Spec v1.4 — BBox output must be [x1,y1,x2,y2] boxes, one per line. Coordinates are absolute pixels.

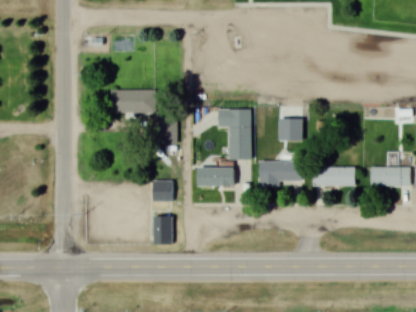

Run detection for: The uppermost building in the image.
[110,90,156,115]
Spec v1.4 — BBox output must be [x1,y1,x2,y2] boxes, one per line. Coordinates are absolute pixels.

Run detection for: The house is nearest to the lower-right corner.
[371,168,412,187]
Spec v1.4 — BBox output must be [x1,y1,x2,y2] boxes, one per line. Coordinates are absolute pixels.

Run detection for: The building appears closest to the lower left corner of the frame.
[154,215,175,244]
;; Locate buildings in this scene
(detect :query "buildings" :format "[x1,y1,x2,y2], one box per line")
[396,108,415,124]
[219,109,253,160]
[154,215,175,244]
[164,120,178,145]
[110,90,156,115]
[197,168,236,188]
[371,168,412,187]
[259,162,306,188]
[310,168,356,188]
[153,181,174,202]
[279,118,304,142]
